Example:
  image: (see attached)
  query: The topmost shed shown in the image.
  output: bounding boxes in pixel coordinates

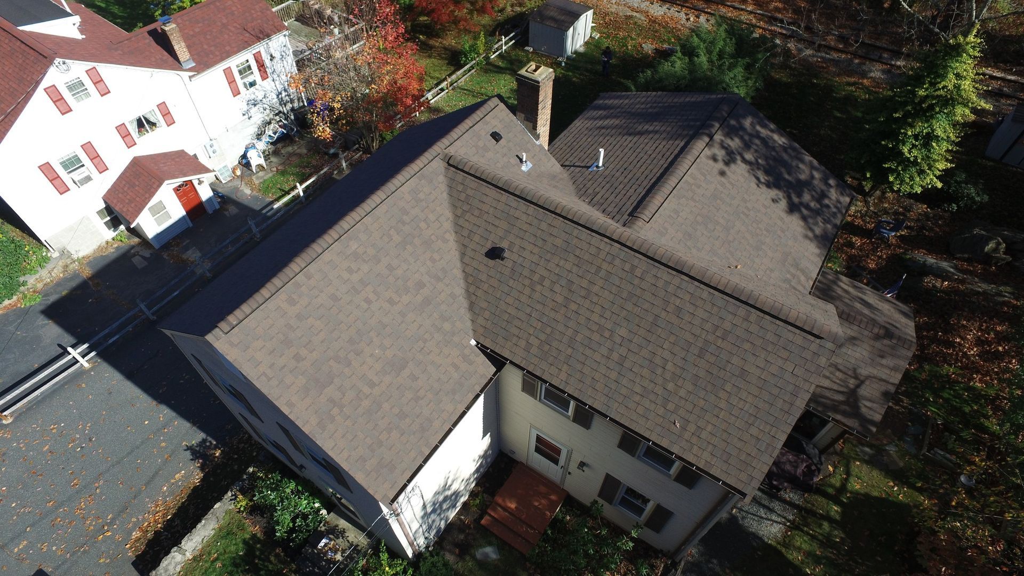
[529,0,596,57]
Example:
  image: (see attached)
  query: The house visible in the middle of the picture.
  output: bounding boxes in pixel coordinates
[155,62,920,563]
